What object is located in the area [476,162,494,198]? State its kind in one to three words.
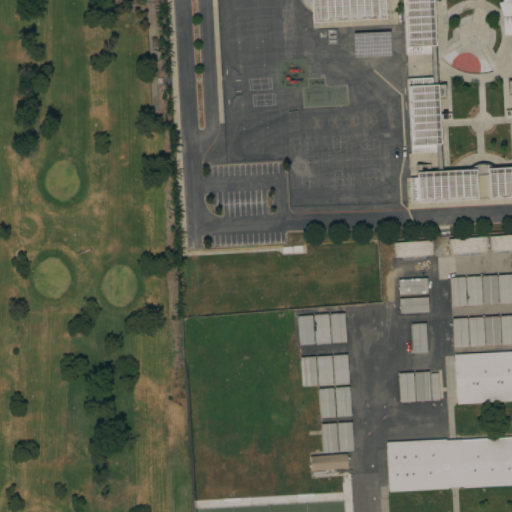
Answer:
building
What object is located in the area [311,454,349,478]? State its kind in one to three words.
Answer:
building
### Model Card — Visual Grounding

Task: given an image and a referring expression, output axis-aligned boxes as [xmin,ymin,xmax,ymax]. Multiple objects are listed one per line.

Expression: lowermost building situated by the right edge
[388,436,512,492]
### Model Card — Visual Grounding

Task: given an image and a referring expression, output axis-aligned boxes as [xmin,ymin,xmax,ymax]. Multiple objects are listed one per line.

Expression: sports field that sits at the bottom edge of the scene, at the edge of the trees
[184,310,350,512]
